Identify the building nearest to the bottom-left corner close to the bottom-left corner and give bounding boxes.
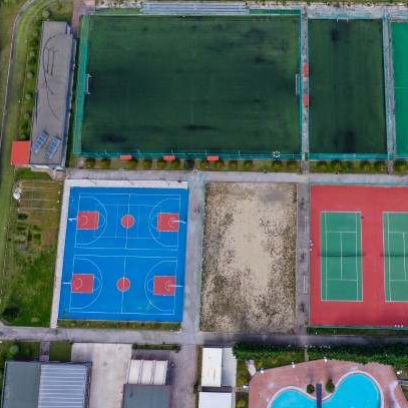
[1,359,97,408]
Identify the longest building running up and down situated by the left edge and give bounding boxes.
[11,21,77,172]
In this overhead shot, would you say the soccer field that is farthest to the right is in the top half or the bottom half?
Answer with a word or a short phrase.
top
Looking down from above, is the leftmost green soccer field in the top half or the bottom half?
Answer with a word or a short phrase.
top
